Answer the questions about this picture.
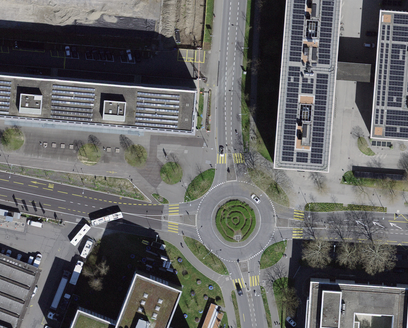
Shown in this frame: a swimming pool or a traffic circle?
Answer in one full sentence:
The one in the frame is a traffic circle.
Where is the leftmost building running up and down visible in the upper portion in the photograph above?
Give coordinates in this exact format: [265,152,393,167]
[273,0,342,172]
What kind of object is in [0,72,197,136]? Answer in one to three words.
building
